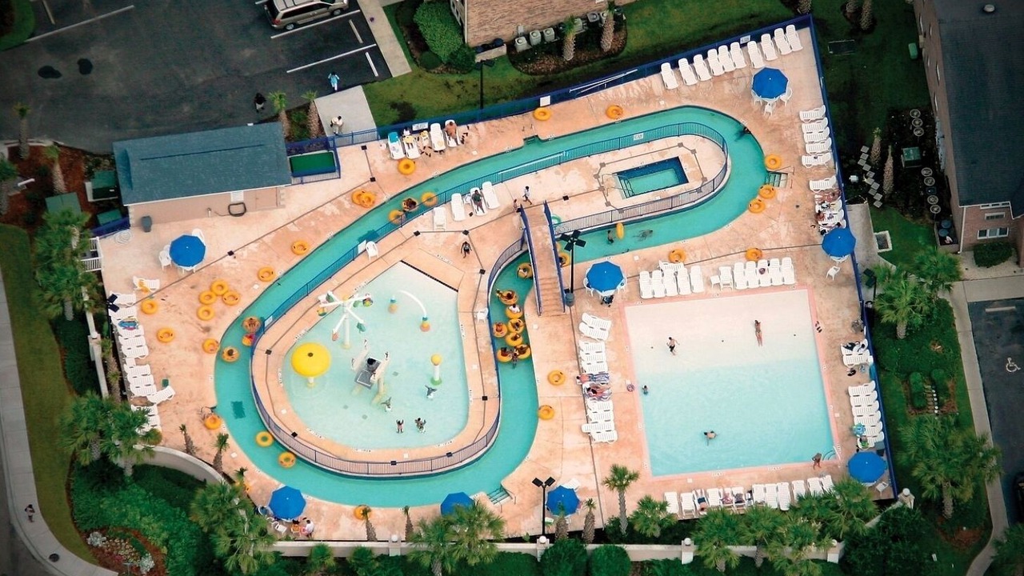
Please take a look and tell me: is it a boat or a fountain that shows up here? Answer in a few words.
fountain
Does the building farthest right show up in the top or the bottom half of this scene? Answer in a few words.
top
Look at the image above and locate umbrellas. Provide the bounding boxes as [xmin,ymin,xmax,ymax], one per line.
[269,487,307,519]
[585,262,622,292]
[848,453,885,491]
[819,228,858,260]
[751,70,786,99]
[545,485,583,519]
[170,236,208,266]
[438,489,477,520]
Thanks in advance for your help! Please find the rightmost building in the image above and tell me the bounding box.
[916,0,1024,263]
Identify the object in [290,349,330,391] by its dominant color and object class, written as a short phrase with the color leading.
yellow fountain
